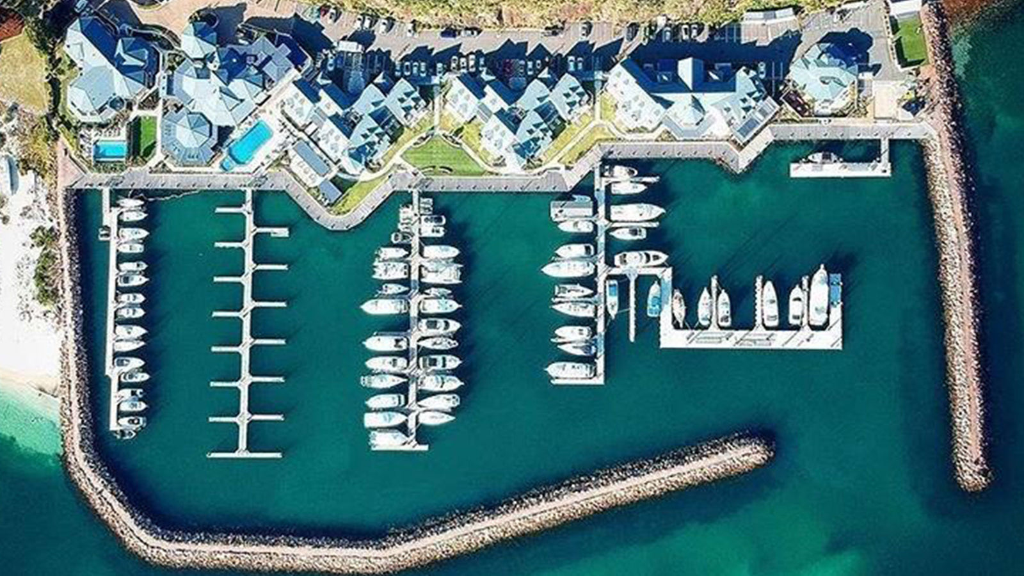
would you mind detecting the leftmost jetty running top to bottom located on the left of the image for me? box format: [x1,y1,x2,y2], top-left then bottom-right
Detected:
[103,190,145,433]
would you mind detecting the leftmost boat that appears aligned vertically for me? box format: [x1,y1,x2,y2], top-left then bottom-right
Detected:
[607,279,619,319]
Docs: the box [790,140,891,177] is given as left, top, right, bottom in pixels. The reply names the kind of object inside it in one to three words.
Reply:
pier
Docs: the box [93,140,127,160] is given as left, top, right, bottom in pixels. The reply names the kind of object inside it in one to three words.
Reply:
swimming pool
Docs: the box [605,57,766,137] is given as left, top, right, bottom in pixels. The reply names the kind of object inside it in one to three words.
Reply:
building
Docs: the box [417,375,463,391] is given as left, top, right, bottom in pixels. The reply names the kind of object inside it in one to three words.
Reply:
boat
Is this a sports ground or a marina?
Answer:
marina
